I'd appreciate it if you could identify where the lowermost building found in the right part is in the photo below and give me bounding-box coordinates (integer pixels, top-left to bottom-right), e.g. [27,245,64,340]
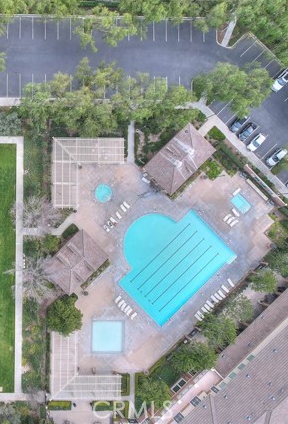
[139,261,288,424]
